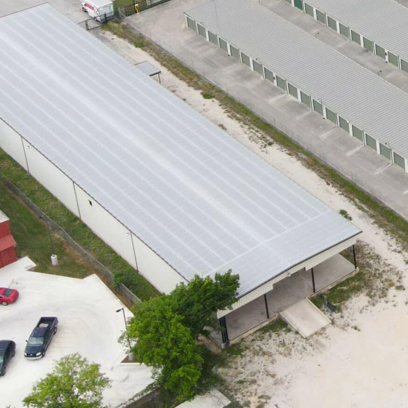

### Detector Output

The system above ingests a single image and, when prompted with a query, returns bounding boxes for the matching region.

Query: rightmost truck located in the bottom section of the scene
[26,315,58,353]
